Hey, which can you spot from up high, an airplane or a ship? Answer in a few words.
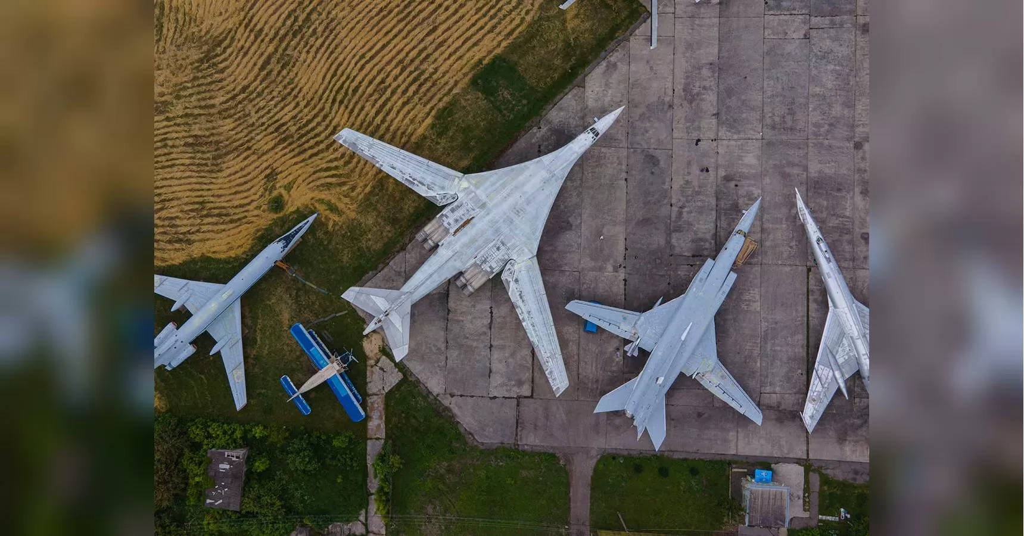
airplane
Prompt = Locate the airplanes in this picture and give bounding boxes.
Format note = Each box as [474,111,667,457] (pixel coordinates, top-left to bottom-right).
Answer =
[565,194,765,451]
[61,214,317,431]
[330,107,624,395]
[797,190,952,447]
[278,322,365,423]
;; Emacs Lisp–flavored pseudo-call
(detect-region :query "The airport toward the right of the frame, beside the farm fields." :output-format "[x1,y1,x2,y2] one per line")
[355,0,1024,494]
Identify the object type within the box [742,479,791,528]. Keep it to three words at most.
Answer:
shed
